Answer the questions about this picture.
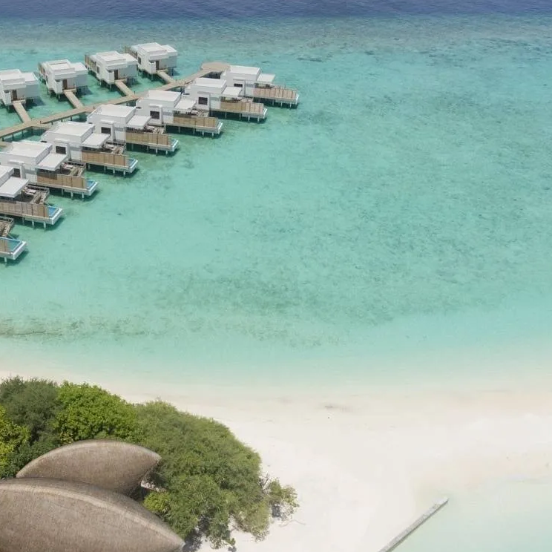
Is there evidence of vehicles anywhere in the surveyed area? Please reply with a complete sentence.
No, there is no vehicle in the image.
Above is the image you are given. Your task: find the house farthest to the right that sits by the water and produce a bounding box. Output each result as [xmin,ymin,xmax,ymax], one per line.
[221,66,292,110]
